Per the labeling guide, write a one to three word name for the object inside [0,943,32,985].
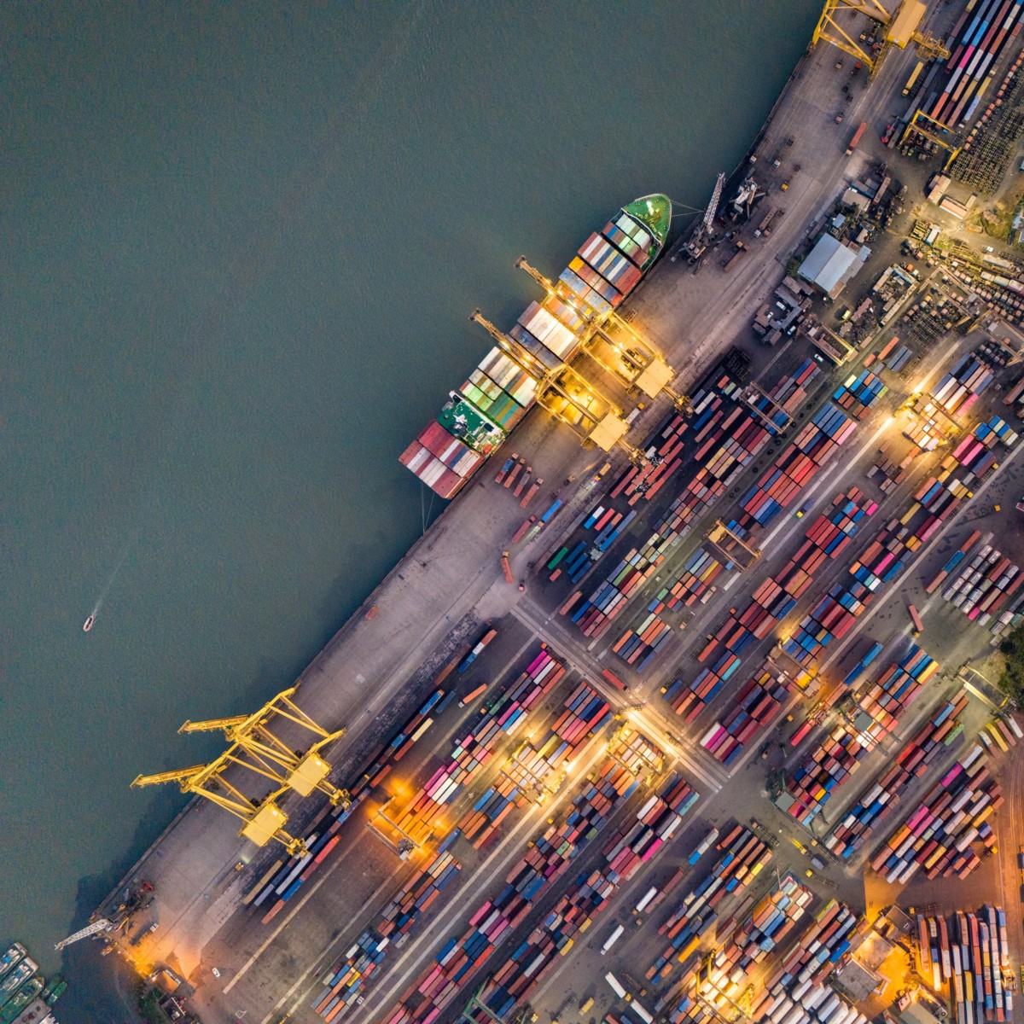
boat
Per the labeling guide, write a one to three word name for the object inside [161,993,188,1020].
shed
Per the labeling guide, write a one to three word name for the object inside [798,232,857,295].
building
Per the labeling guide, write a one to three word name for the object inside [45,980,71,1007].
boat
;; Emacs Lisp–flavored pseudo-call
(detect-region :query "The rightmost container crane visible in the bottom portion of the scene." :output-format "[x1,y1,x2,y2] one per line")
[939,652,1011,712]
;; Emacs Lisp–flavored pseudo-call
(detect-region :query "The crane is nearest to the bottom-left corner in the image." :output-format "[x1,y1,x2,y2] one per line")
[47,901,140,947]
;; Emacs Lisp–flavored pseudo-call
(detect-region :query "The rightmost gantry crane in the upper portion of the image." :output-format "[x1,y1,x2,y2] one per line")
[962,310,1024,373]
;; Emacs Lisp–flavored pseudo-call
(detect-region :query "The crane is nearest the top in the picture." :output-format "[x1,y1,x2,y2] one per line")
[803,0,957,87]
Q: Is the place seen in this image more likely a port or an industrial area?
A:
port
